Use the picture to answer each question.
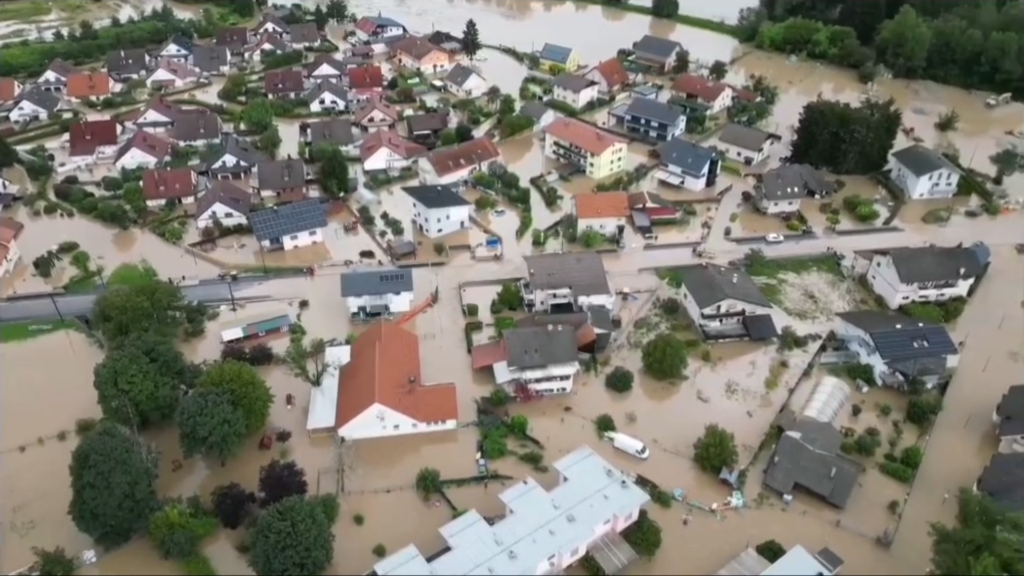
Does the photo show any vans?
Yes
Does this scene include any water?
Yes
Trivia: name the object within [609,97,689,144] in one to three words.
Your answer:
house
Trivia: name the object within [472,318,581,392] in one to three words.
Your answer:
house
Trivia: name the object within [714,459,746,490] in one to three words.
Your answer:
shed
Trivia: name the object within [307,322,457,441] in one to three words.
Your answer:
building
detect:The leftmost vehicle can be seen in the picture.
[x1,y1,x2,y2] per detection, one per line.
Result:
[218,267,240,280]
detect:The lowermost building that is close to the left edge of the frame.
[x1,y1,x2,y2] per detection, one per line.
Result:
[0,226,35,293]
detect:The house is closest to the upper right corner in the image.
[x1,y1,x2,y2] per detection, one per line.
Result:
[889,145,963,202]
